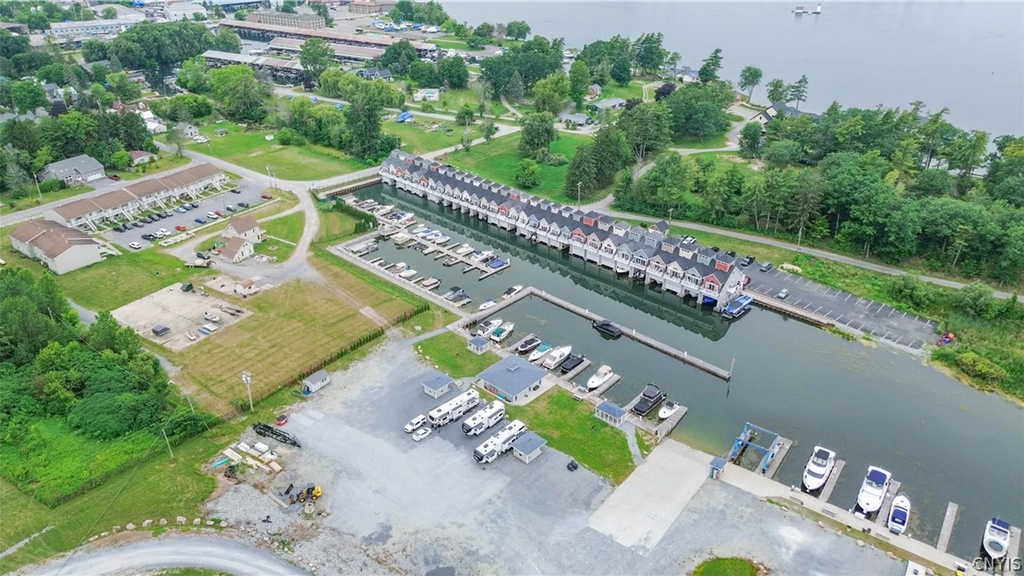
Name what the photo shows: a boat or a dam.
boat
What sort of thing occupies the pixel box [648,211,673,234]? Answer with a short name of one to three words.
house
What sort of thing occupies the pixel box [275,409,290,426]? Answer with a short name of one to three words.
work vehicle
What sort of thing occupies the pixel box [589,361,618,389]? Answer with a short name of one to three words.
boat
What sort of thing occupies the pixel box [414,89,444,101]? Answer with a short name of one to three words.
swimming pool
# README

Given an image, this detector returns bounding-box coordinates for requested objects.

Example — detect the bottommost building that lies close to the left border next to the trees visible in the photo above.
[14,216,120,274]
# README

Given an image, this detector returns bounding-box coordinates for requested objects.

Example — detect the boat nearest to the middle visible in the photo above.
[499,280,523,299]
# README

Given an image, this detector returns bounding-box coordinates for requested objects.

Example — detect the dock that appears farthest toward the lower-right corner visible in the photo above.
[986,526,1022,576]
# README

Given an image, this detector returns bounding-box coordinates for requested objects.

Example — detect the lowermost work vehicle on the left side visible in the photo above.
[290,482,324,508]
